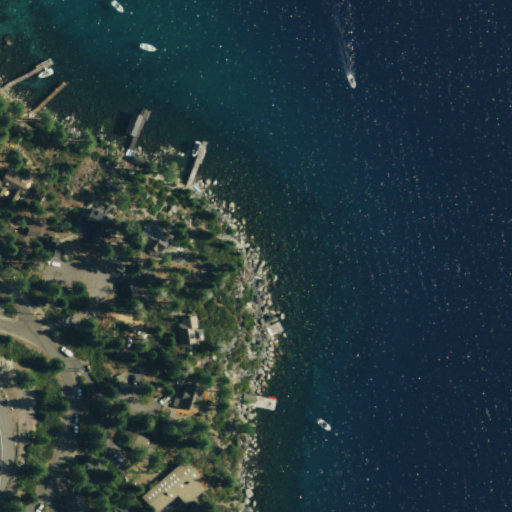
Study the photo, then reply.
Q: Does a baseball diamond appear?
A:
No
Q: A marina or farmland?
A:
marina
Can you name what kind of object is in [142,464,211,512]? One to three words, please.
building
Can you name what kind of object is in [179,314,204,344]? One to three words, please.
house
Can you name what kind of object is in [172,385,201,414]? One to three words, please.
house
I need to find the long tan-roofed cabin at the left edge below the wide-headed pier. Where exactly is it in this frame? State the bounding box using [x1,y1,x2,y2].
[2,174,34,200]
